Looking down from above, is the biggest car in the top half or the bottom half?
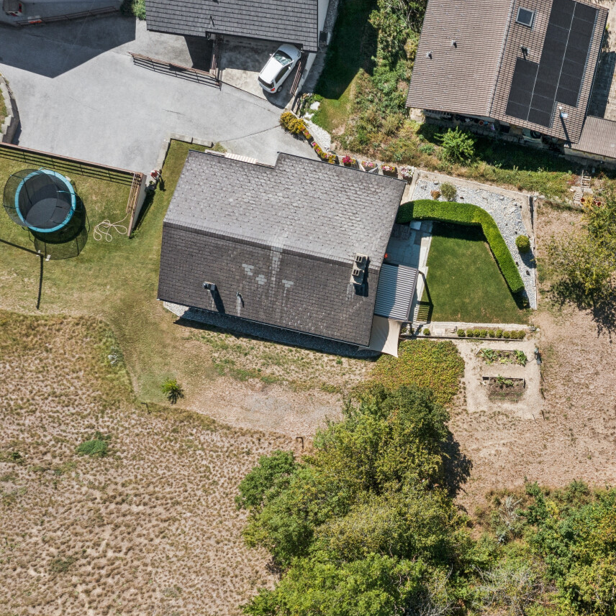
top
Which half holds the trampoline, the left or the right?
left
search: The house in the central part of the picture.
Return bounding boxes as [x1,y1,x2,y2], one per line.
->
[157,148,406,350]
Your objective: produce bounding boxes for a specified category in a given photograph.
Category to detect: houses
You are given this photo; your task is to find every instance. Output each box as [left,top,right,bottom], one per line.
[141,0,330,52]
[405,0,608,146]
[157,148,406,350]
